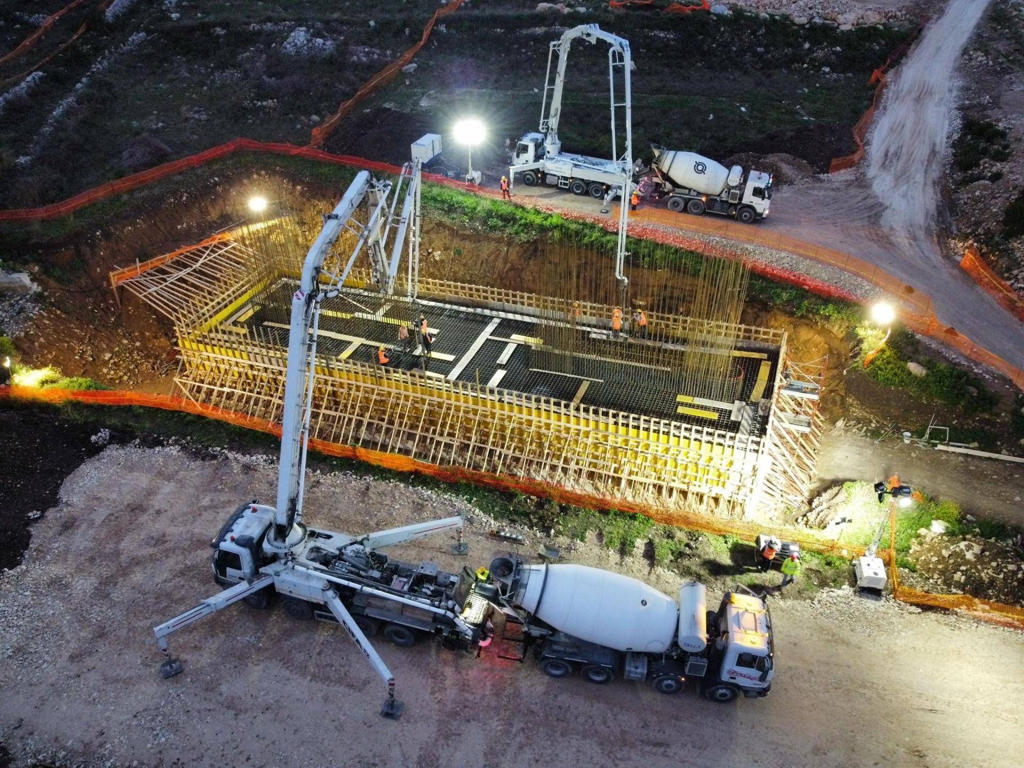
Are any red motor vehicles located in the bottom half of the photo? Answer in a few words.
No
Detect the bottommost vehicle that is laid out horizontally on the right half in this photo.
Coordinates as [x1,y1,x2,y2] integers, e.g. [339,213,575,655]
[474,551,791,703]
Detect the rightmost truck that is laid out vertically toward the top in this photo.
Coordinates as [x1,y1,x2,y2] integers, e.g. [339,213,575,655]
[507,23,639,332]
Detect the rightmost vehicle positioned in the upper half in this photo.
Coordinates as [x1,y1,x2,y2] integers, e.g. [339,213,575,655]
[640,141,784,222]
